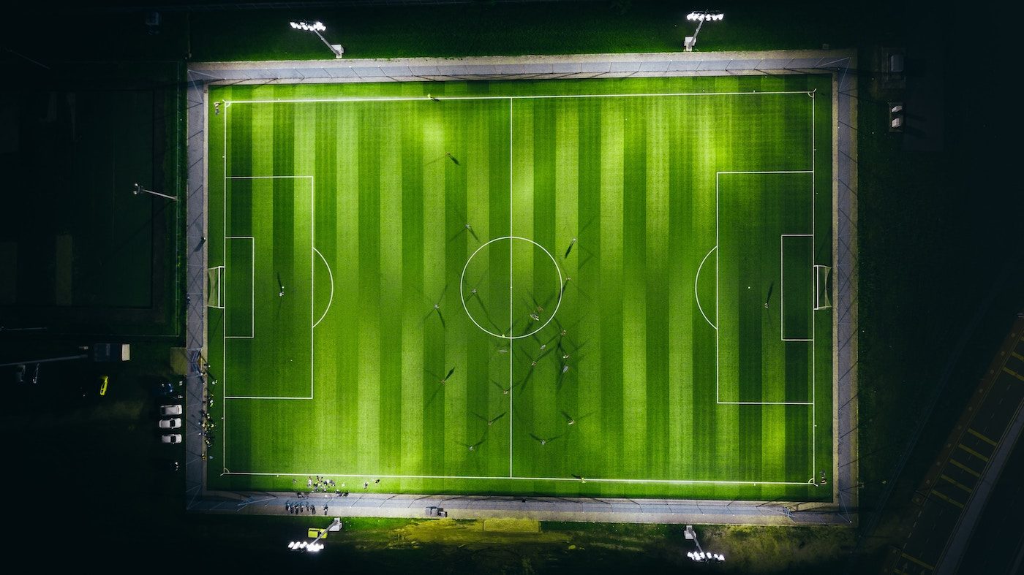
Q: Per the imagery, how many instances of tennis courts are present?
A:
0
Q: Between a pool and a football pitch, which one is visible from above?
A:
football pitch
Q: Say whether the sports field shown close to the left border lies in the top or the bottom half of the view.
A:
top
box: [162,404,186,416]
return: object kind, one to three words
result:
vehicle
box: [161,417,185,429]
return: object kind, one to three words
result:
vehicle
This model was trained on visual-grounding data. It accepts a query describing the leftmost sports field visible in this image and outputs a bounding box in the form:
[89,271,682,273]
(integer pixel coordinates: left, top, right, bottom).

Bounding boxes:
[0,78,165,319]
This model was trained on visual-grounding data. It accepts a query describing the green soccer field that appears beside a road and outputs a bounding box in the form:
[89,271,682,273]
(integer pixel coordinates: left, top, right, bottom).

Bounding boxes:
[207,73,833,502]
